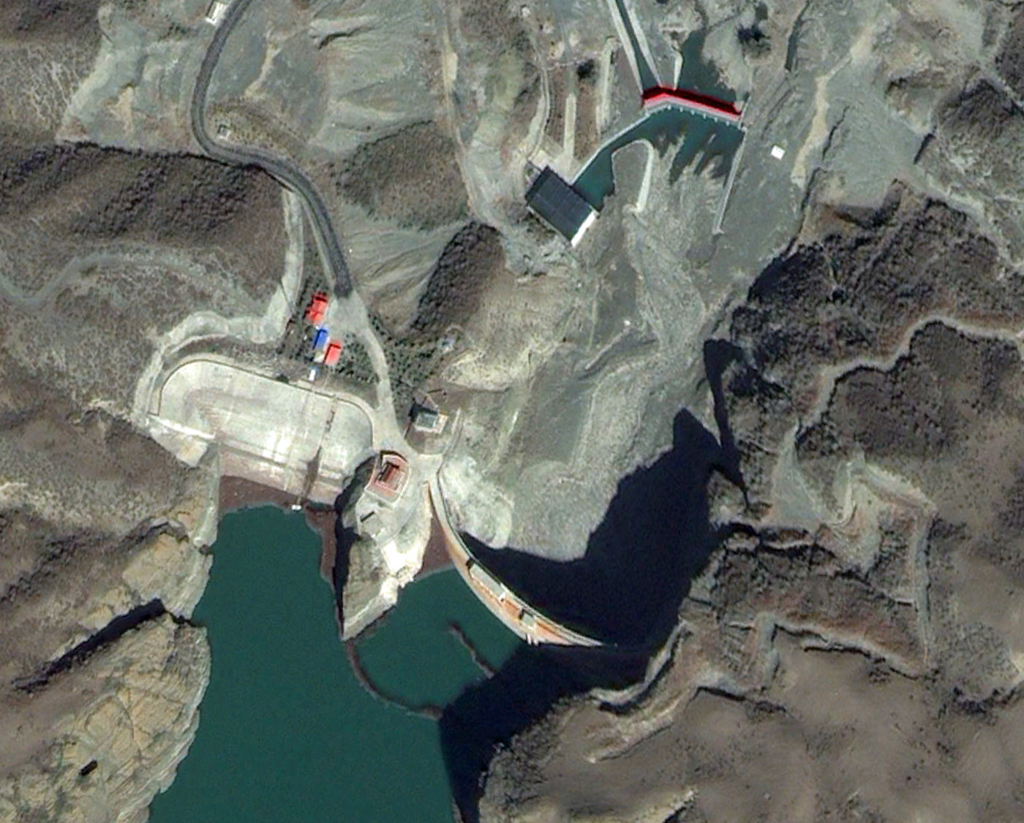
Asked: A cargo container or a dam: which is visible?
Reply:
dam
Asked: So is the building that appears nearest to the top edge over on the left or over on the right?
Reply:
left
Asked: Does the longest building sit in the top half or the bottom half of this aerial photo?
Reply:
top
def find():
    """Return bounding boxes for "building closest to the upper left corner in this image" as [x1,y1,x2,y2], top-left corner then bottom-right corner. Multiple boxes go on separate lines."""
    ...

[205,1,228,26]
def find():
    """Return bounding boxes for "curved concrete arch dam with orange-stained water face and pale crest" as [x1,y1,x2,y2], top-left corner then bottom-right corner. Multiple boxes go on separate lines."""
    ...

[428,468,653,659]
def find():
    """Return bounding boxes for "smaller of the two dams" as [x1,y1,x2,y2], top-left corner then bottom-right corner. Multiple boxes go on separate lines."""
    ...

[643,86,742,126]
